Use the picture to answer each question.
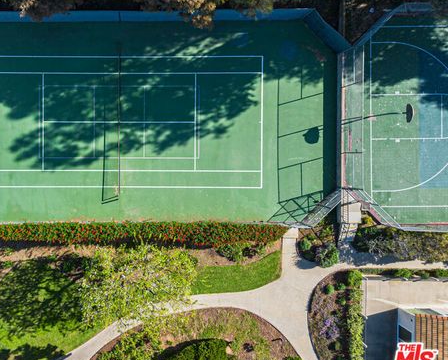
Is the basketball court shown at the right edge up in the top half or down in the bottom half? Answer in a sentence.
You can find the basketball court shown at the right edge in the top half.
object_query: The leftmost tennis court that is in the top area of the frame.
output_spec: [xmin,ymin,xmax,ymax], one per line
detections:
[0,21,337,223]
